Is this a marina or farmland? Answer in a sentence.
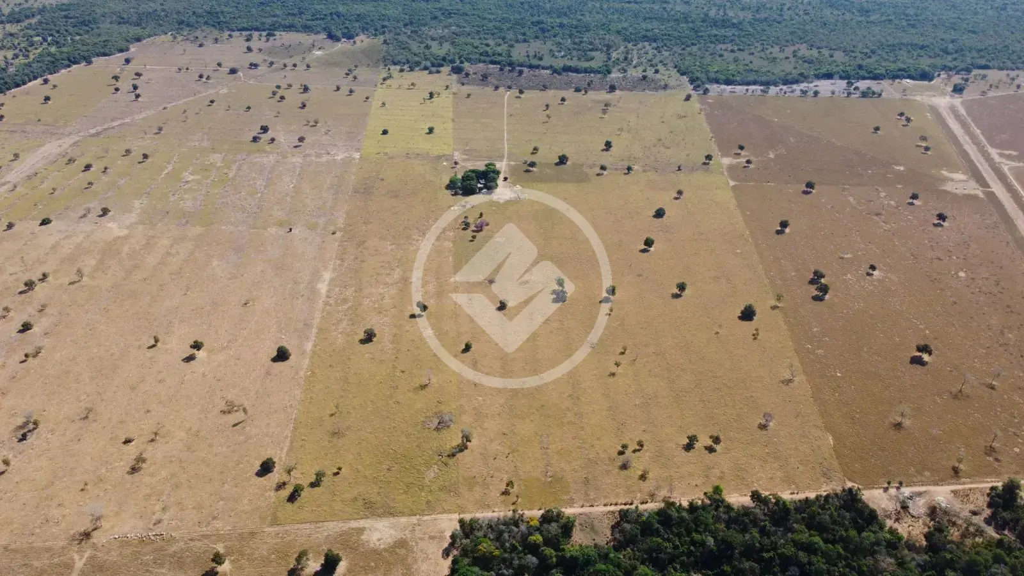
The area seen from above is farmland.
